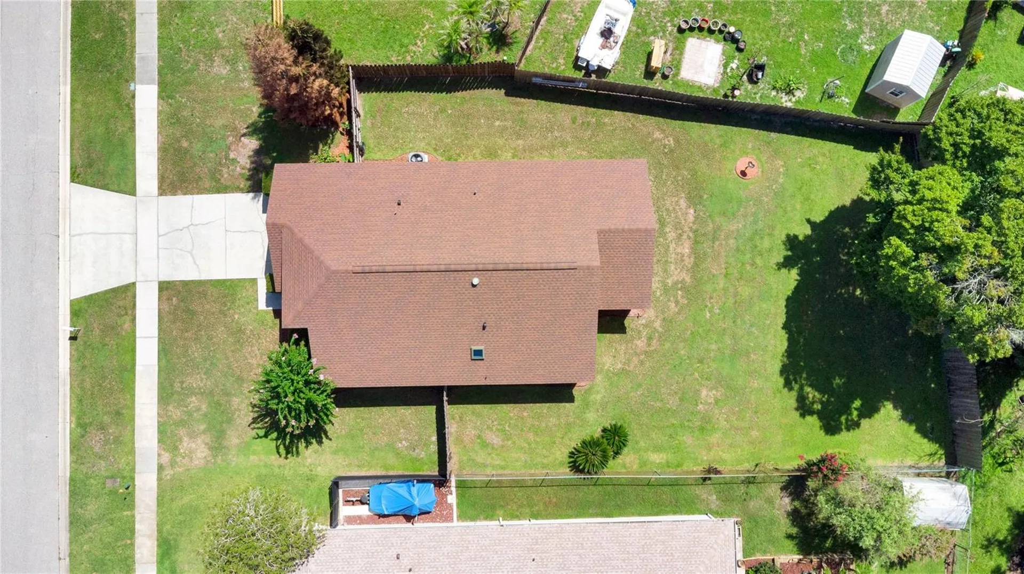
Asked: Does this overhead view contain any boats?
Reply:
Yes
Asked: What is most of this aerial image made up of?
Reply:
grass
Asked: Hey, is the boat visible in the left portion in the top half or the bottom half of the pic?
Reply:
bottom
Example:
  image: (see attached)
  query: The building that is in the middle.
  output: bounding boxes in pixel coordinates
[265,159,657,388]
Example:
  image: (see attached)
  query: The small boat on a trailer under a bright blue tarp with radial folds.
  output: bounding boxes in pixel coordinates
[348,481,439,521]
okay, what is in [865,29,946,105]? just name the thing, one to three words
shed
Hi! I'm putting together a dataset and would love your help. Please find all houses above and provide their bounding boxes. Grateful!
[292,515,744,574]
[265,159,657,388]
